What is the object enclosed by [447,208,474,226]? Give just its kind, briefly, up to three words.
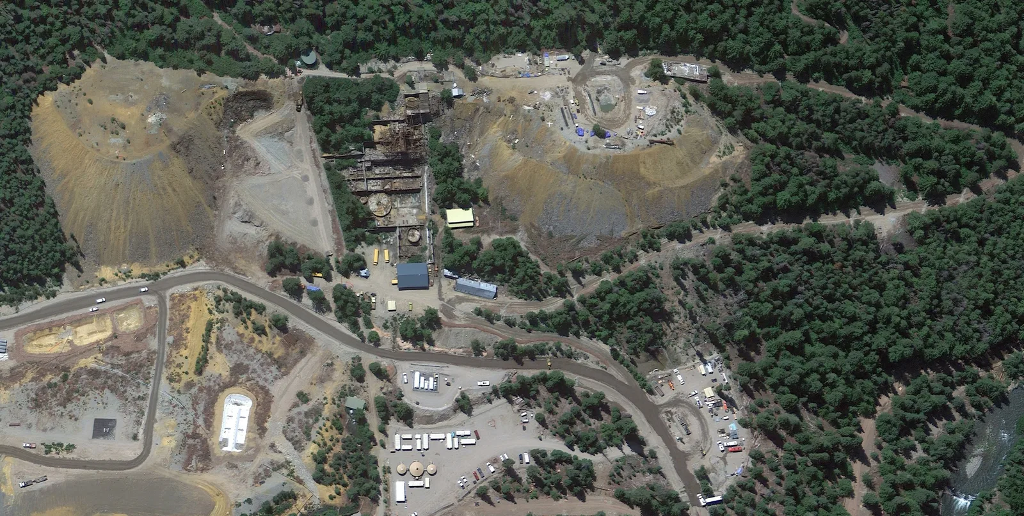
shed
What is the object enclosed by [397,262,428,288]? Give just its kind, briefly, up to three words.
building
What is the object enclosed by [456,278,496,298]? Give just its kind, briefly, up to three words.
shed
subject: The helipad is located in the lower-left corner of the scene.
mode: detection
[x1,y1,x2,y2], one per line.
[93,419,117,440]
